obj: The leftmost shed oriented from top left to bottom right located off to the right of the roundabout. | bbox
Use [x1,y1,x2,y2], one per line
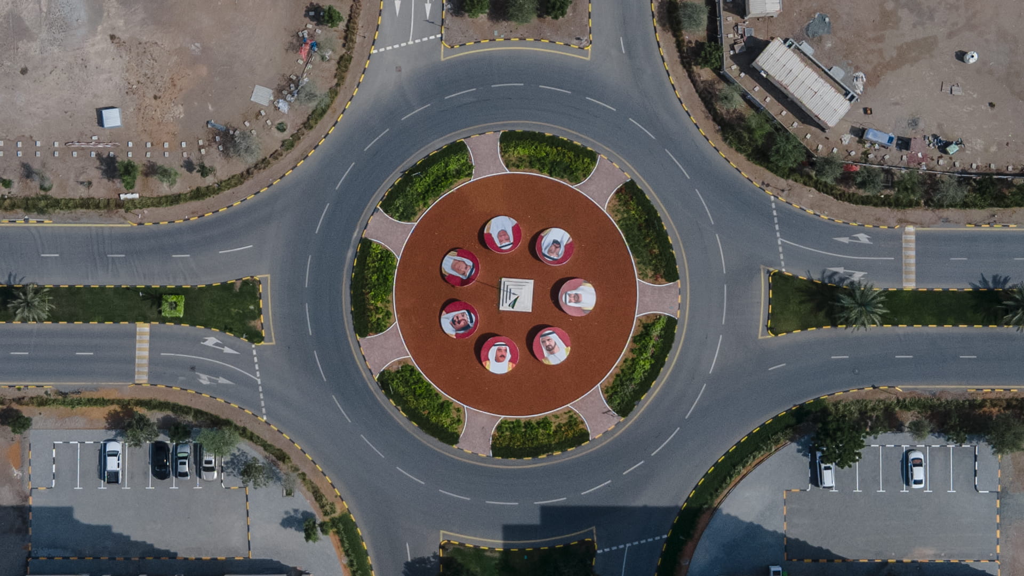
[752,38,851,129]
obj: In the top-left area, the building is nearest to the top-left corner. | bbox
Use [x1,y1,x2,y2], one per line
[101,108,122,128]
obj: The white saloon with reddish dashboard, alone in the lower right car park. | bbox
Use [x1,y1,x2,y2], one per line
[907,449,925,489]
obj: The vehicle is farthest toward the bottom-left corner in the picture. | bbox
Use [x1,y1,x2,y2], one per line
[103,439,123,484]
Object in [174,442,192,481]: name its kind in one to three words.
car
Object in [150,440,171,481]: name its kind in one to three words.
car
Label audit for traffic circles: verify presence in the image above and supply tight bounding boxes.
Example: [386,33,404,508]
[273,52,758,537]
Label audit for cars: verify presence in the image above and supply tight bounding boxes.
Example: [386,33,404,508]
[150,440,171,481]
[815,445,834,489]
[103,439,123,484]
[174,442,192,481]
[199,441,218,482]
[907,449,925,489]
